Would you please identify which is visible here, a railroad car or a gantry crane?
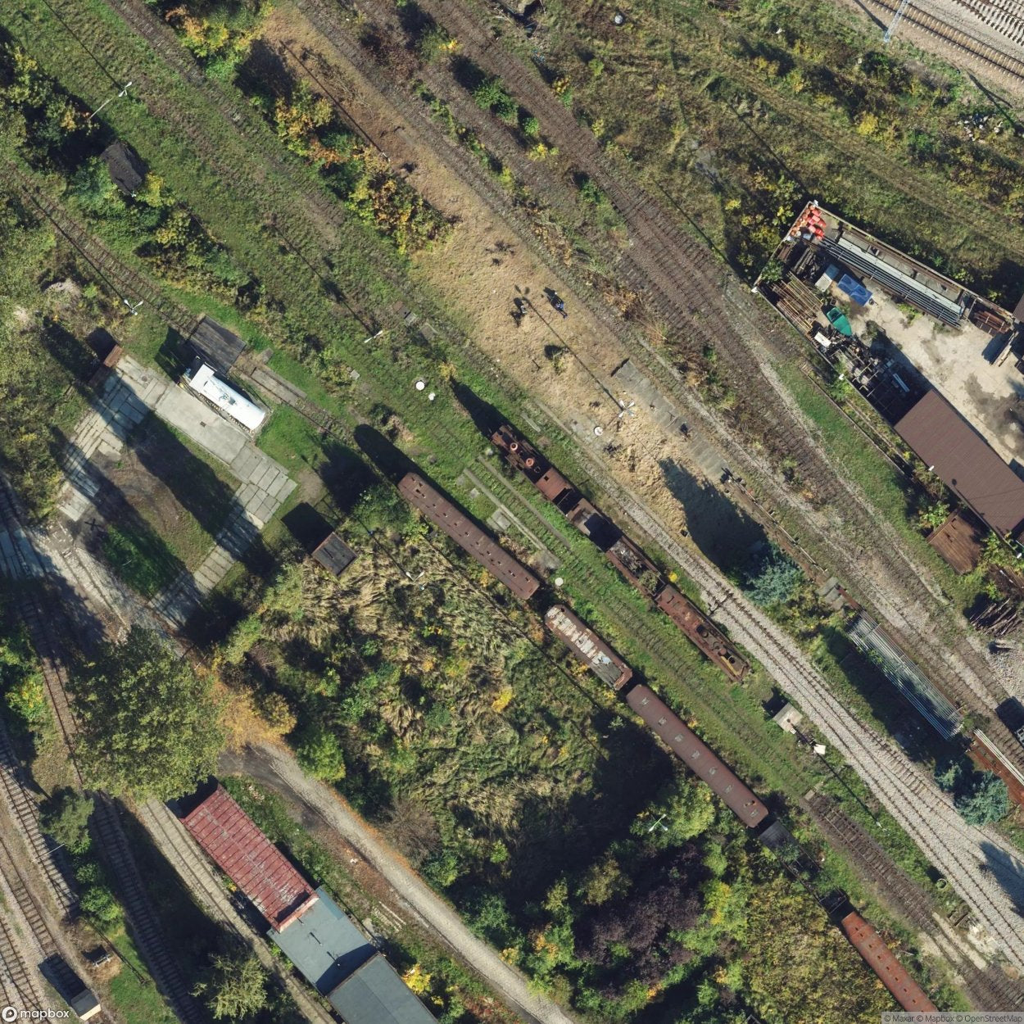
railroad car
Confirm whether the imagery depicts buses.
Yes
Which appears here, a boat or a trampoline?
boat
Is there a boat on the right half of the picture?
Yes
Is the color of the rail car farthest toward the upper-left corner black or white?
white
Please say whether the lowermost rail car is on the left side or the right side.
left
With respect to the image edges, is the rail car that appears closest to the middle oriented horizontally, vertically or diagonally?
diagonally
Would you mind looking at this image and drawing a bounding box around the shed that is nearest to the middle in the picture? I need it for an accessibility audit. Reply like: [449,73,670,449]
[311,531,358,576]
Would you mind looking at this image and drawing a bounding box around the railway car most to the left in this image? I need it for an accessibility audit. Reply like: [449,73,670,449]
[71,986,104,1018]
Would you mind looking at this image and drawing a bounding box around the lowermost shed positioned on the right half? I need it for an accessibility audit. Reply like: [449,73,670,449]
[772,703,803,731]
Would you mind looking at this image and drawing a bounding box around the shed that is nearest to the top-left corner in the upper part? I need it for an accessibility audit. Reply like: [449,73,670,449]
[101,140,151,196]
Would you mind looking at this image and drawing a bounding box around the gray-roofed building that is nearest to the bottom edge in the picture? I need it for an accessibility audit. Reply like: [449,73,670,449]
[328,949,442,1024]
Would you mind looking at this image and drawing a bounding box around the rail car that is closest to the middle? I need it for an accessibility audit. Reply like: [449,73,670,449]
[486,422,572,504]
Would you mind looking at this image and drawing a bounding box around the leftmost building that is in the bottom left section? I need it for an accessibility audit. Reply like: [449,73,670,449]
[179,783,320,936]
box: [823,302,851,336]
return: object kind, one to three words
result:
boat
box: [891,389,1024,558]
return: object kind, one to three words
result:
shed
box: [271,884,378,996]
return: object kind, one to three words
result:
building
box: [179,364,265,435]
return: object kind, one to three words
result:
rail car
